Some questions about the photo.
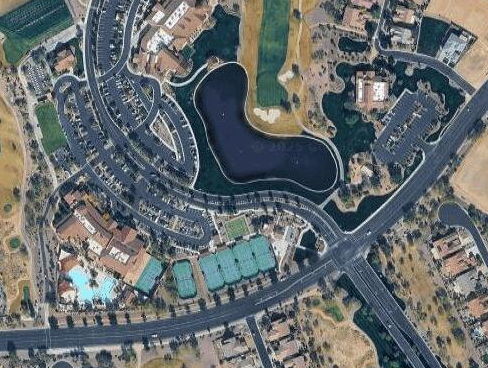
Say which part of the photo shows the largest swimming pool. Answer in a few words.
bottom left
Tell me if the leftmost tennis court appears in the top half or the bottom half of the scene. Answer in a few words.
bottom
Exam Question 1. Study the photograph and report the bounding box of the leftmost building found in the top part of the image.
[52,47,75,73]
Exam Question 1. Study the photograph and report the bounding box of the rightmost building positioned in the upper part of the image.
[440,29,470,62]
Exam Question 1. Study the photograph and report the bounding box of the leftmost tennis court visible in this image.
[138,258,162,294]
